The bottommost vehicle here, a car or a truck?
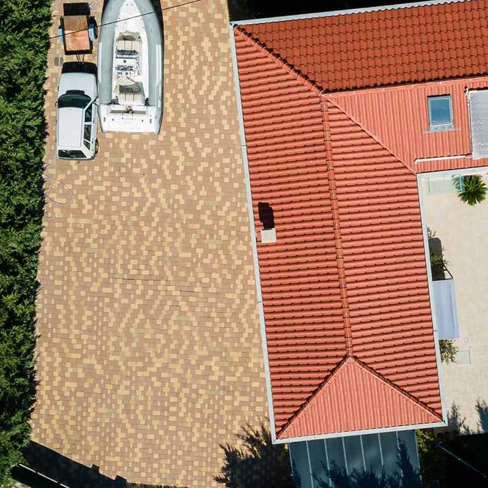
car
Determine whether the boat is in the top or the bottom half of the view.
top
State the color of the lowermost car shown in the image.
white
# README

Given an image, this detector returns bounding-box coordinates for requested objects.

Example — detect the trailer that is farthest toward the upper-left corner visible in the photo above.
[55,11,99,70]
